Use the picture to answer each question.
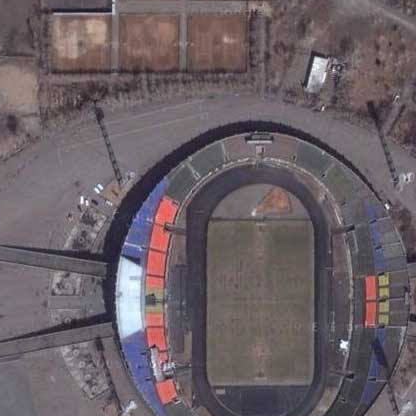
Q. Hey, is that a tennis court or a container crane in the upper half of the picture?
tennis court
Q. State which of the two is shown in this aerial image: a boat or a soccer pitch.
soccer pitch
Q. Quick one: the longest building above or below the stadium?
above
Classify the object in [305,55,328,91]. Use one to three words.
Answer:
building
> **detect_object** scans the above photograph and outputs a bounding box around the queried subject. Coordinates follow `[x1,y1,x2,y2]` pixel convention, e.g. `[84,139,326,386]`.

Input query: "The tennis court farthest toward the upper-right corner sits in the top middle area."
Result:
[188,14,248,72]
